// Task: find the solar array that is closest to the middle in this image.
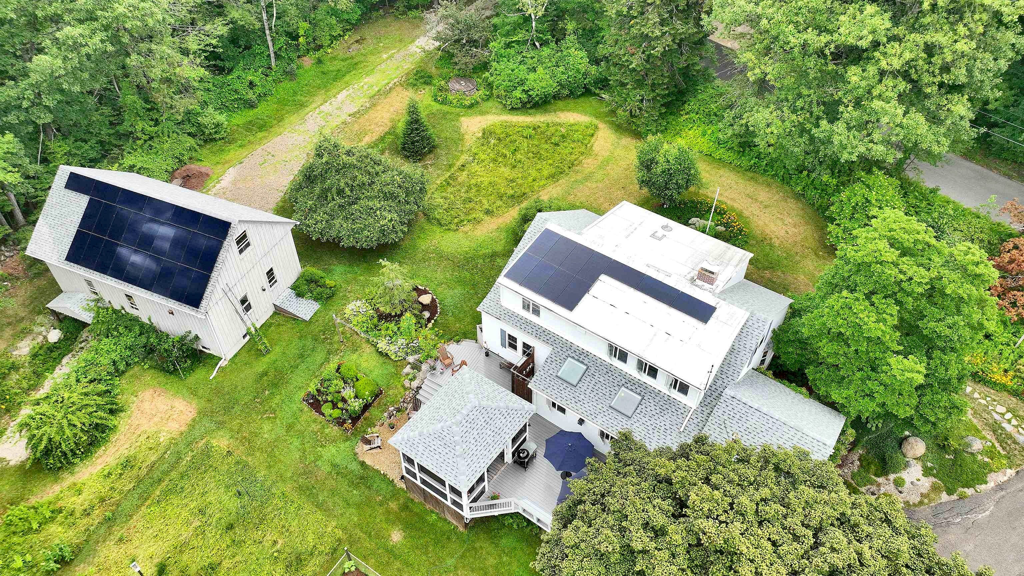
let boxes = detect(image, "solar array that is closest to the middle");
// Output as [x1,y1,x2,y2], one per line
[504,227,717,322]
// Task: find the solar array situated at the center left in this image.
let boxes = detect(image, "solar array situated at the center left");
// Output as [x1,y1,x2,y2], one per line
[62,172,229,308]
